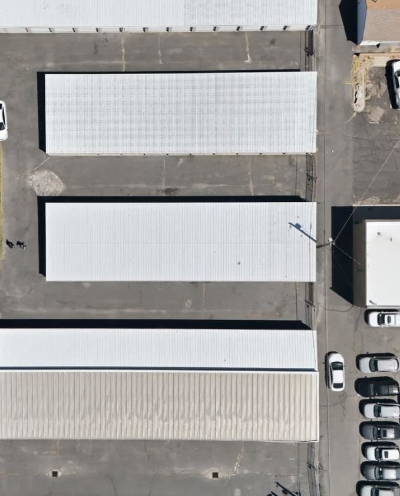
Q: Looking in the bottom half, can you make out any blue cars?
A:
No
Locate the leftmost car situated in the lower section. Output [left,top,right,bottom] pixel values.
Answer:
[327,352,346,391]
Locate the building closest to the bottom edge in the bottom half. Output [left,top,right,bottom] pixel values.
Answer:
[0,328,318,441]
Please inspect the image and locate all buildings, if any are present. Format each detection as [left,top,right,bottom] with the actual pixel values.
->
[353,222,400,308]
[0,0,317,35]
[358,0,400,44]
[45,72,317,158]
[0,328,318,441]
[45,202,316,281]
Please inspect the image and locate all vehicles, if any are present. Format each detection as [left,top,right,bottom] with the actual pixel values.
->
[327,352,346,391]
[363,402,400,420]
[360,461,400,481]
[359,483,400,496]
[361,423,400,442]
[0,98,8,141]
[358,378,399,398]
[364,444,400,463]
[368,311,400,328]
[392,62,400,111]
[359,356,399,375]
